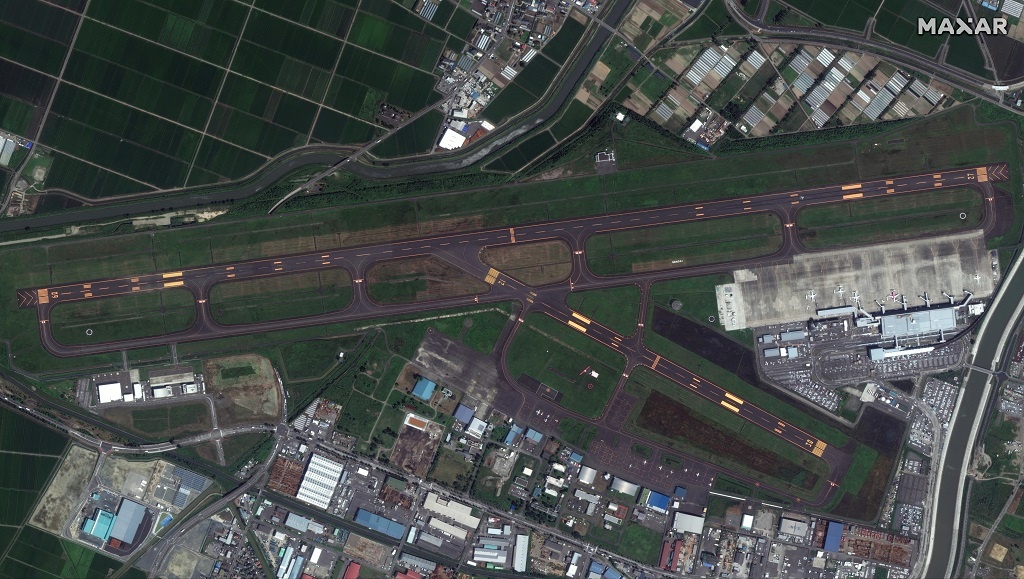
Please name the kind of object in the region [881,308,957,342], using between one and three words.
building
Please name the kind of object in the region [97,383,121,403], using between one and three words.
hangar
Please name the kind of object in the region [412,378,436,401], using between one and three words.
hangar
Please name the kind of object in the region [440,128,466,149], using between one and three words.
building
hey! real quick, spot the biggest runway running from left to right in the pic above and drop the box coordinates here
[17,165,1008,306]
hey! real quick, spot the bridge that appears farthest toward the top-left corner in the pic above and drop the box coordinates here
[268,134,385,213]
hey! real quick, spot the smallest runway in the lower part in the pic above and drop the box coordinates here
[483,267,828,457]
